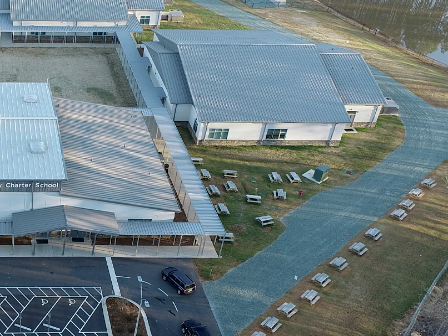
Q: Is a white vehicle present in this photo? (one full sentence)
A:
No, no white vehicle is visible in the scene.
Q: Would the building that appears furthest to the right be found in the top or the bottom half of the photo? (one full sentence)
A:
The building that appears furthest to the right is in the top half of the image.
